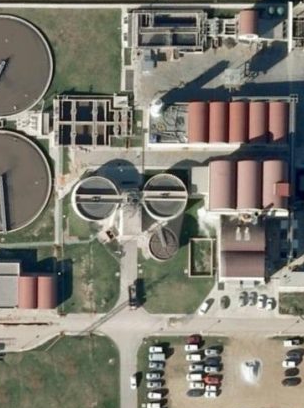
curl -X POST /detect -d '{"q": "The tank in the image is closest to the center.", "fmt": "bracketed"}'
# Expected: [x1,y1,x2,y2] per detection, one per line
[138,175,188,222]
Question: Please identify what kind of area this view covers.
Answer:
industrial area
